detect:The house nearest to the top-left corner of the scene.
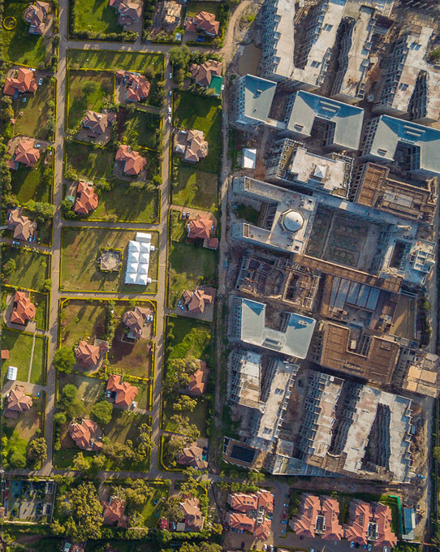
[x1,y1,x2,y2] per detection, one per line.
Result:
[22,0,53,39]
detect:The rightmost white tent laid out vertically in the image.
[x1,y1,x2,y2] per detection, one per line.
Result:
[125,242,149,285]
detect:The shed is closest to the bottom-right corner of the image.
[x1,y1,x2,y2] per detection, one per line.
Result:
[398,508,416,541]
